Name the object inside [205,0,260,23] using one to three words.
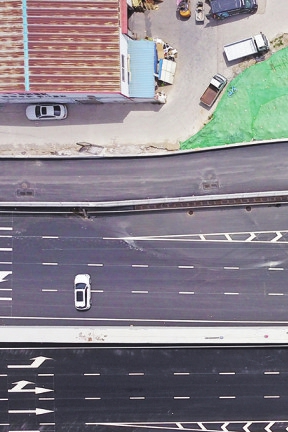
truck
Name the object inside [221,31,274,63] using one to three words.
truck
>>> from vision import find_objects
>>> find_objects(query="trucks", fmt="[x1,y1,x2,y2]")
[221,31,274,63]
[199,74,227,108]
[205,0,260,23]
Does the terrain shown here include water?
No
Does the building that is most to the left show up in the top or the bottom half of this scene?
top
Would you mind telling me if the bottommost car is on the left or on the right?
left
